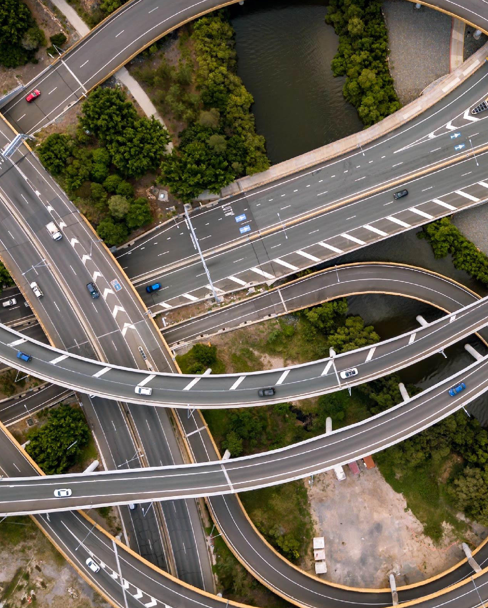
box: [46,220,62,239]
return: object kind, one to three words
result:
vehicle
